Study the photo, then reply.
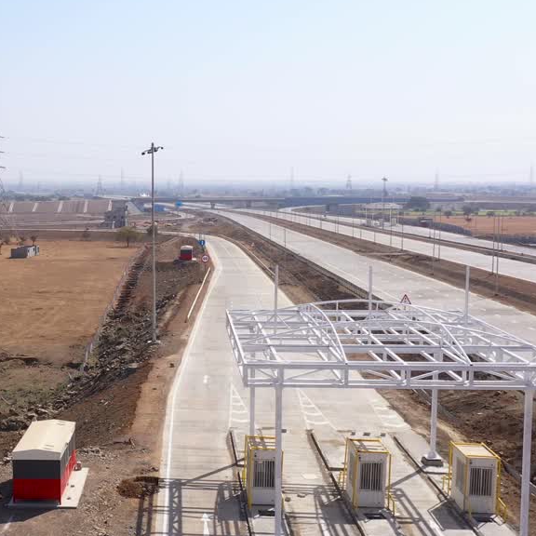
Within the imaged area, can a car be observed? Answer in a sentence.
No, the scene contains no car.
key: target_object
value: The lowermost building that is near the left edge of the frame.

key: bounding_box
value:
[10,419,95,507]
